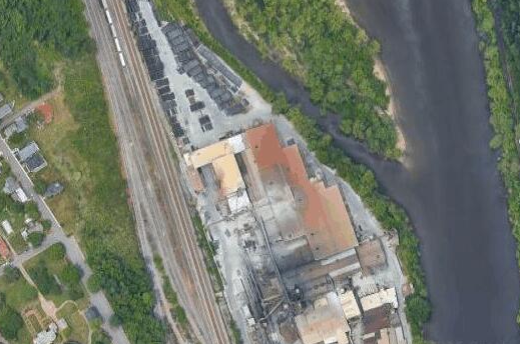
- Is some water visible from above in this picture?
Yes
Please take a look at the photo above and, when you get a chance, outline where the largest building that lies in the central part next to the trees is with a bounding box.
[245,124,358,261]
